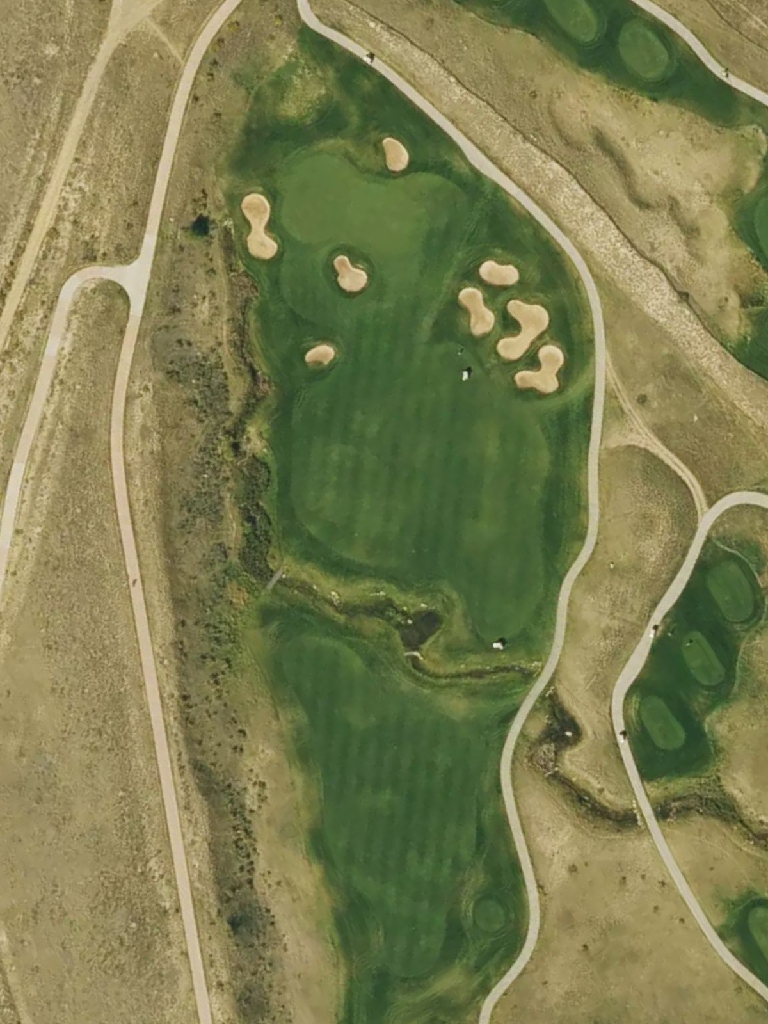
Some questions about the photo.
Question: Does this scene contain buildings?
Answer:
No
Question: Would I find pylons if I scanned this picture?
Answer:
No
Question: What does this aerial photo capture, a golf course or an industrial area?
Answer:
golf course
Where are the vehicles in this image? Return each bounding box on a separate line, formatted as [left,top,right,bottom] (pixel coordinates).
[493,643,504,649]
[363,56,373,66]
[618,733,625,744]
[648,628,655,639]
[462,370,469,381]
